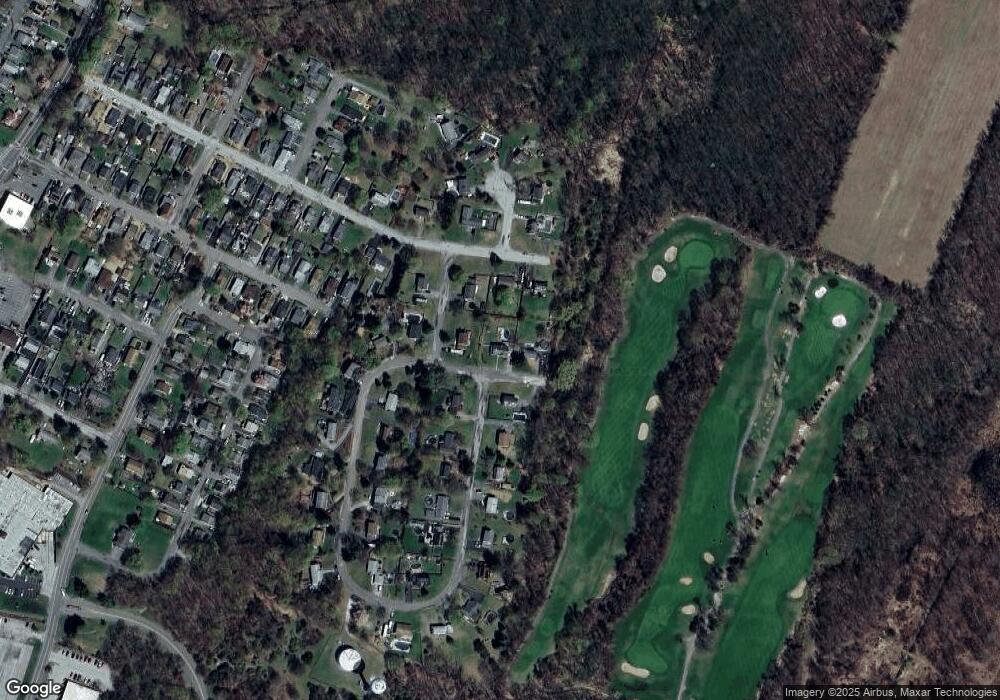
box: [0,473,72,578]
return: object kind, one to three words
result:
building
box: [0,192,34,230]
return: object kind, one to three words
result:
building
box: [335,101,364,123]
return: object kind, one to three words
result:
house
